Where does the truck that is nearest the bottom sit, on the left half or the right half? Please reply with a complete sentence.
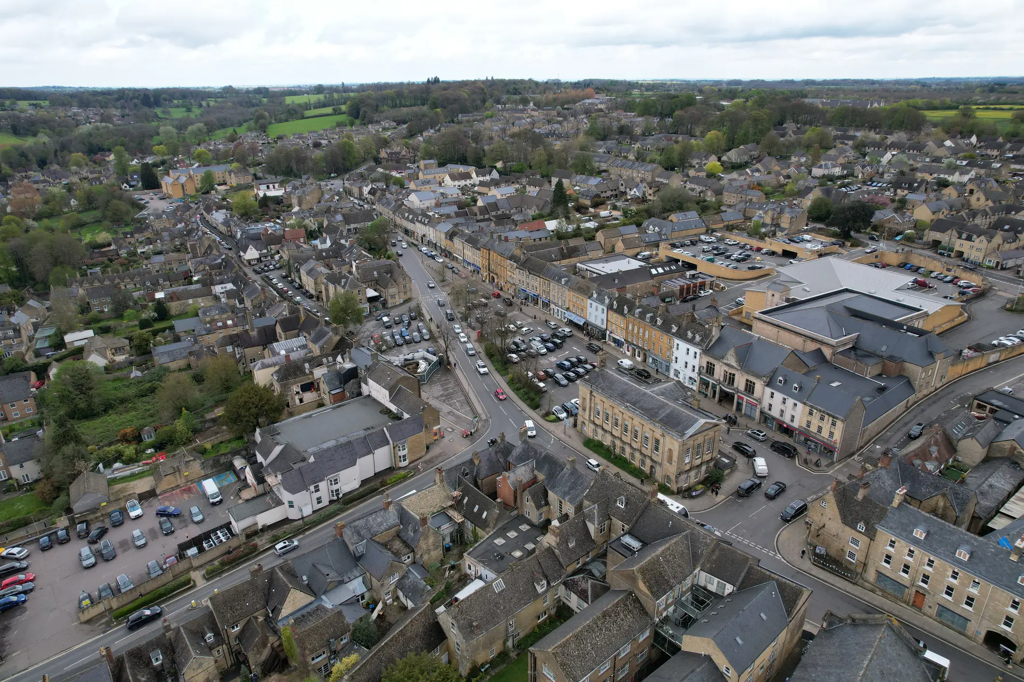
You can find the truck that is nearest the bottom on the right side of the picture.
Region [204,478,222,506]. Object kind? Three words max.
vehicle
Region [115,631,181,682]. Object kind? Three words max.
house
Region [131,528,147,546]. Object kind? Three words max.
car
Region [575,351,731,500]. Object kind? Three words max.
building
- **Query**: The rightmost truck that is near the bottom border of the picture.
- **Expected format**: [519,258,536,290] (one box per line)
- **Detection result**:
[914,646,966,682]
